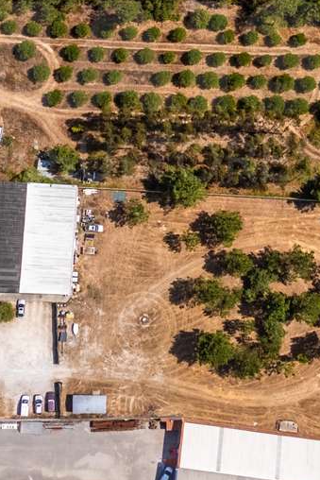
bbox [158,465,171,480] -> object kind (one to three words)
vehicle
